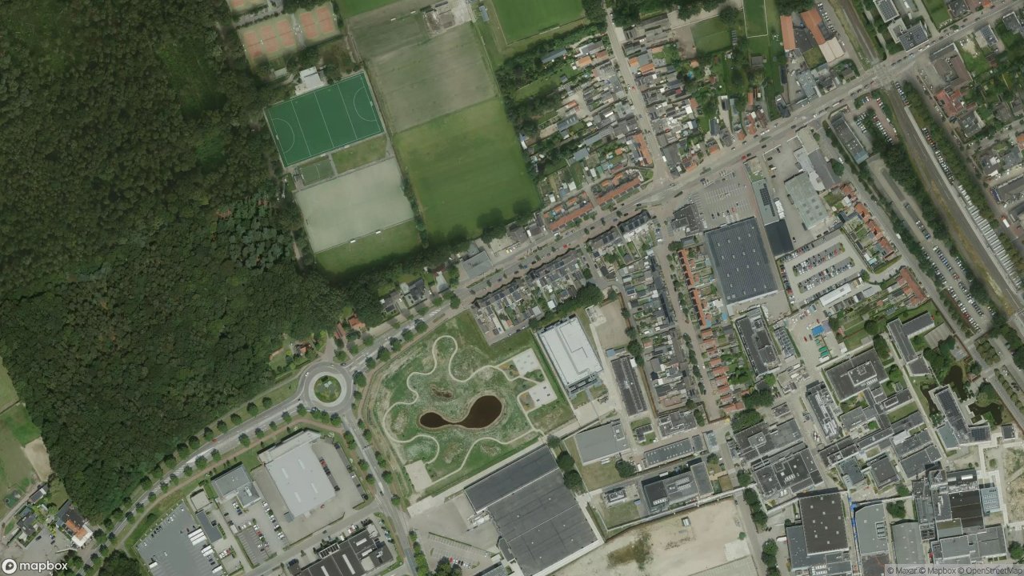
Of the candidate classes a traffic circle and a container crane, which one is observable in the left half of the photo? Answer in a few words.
traffic circle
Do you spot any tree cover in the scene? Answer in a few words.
Yes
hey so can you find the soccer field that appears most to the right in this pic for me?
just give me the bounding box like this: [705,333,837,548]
[495,0,584,44]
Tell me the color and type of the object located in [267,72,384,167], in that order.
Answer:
green sports field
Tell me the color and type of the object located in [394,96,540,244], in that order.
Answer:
green soccer field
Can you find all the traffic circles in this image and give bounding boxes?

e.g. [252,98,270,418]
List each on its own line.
[301,363,354,415]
